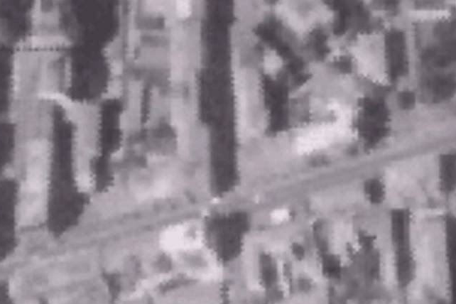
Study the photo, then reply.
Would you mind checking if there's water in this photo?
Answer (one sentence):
No, there's no water in this view.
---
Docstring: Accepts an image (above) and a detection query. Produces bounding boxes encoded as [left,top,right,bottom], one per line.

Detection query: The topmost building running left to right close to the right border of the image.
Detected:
[405,7,454,24]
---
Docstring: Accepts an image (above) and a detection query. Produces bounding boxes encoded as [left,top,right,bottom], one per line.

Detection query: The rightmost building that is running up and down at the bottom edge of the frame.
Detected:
[406,212,447,304]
